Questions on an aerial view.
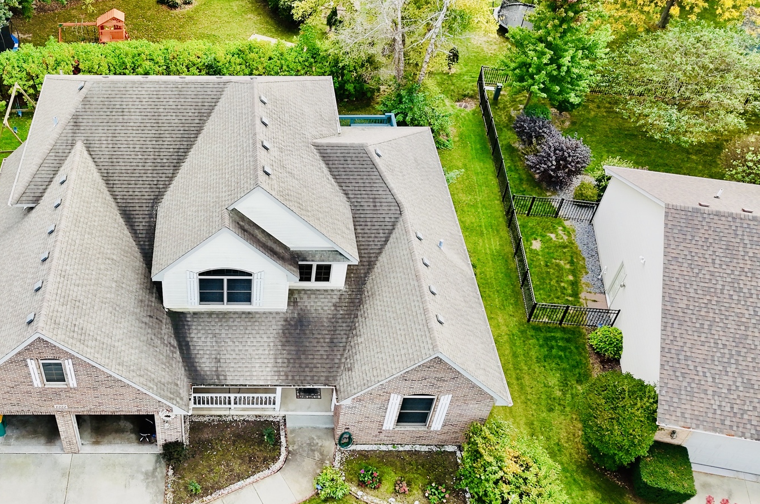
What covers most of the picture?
buildings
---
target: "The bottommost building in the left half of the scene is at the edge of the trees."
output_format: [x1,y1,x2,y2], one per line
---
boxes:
[0,58,516,456]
